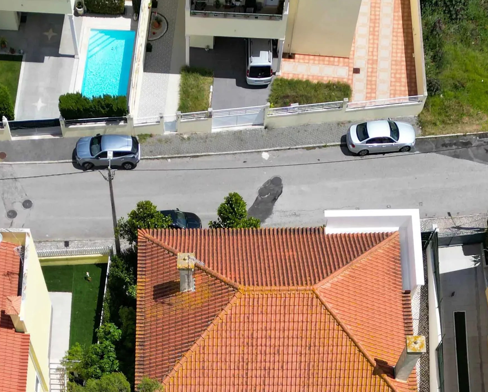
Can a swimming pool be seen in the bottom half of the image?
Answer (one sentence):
No, in the bottom half of the image there is no swimming pool.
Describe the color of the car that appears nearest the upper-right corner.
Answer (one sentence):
The color of the car that appears nearest the upper-right corner is white.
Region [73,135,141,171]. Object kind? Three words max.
car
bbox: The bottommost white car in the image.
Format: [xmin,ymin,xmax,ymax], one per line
[345,122,417,157]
